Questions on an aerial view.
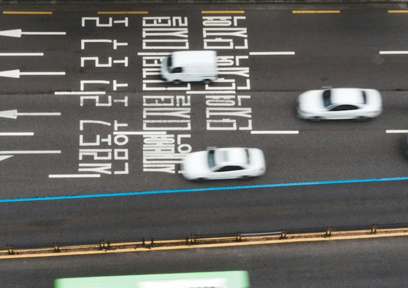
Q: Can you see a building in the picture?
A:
No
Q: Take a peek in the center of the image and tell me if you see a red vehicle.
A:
No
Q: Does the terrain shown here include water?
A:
No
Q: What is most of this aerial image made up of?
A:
paved ground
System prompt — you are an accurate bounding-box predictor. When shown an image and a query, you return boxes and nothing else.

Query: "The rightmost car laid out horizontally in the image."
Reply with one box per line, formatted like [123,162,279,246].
[299,83,382,120]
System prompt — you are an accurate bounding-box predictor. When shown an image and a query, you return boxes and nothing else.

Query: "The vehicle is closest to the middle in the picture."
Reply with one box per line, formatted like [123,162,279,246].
[182,143,265,181]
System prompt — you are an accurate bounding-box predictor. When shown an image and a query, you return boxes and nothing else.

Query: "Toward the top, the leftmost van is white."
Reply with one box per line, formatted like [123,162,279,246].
[160,49,219,84]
